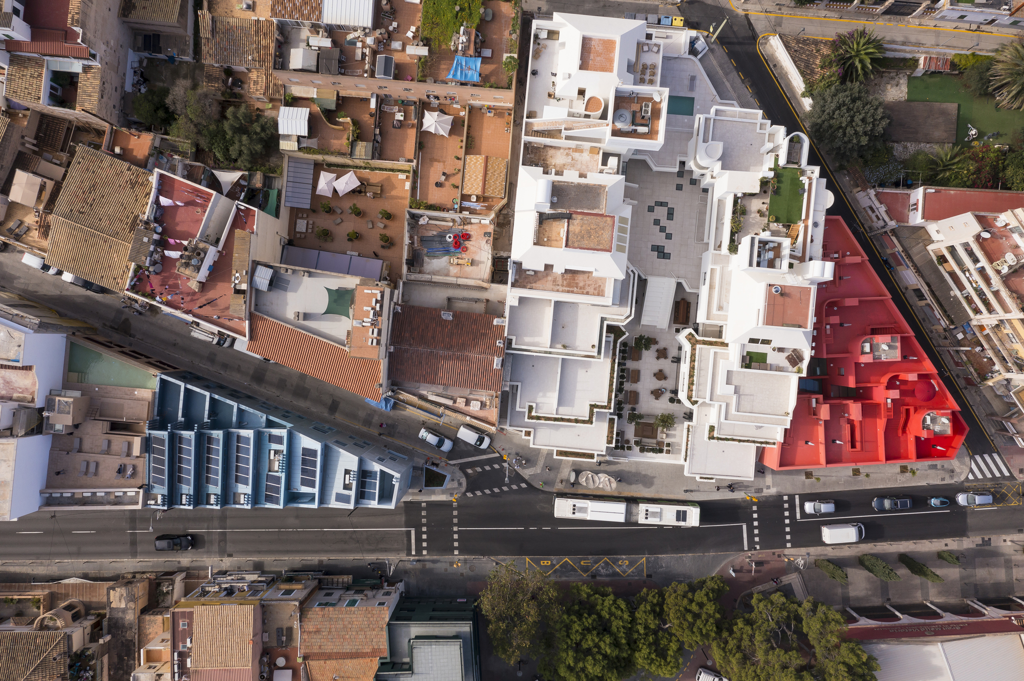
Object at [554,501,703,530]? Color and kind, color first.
white bus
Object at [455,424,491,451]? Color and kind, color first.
white vehicle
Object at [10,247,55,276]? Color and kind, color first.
white van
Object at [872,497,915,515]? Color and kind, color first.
black vehicle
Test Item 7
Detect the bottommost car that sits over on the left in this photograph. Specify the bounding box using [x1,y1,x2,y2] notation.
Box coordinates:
[152,535,193,554]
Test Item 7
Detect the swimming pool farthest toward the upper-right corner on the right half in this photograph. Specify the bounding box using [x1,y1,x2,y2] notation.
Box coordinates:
[667,95,695,116]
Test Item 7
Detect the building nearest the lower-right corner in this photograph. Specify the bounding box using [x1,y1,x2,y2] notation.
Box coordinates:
[812,594,1024,681]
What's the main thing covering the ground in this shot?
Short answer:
buildings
